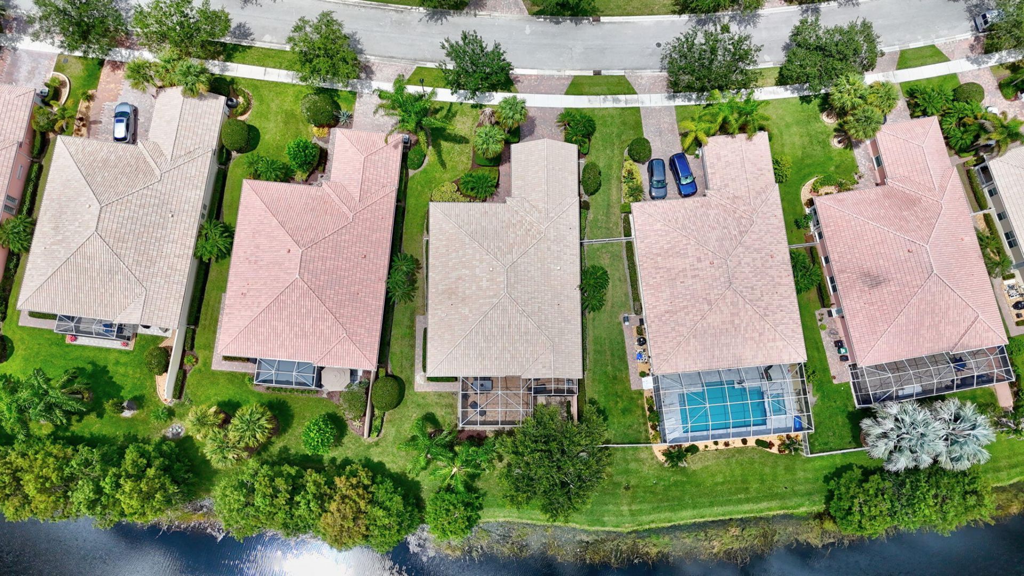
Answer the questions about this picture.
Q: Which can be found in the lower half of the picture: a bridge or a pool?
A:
pool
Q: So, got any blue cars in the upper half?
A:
Yes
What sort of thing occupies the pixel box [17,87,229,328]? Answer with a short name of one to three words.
house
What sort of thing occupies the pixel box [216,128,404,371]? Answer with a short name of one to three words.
house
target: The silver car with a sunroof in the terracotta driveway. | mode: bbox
[114,105,137,143]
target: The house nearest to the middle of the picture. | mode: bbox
[424,137,585,380]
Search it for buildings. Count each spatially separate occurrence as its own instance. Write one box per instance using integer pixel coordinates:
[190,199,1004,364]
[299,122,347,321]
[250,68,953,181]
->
[0,84,46,266]
[17,87,229,328]
[216,128,404,371]
[973,152,1024,301]
[424,137,585,380]
[799,116,1010,368]
[629,130,811,377]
